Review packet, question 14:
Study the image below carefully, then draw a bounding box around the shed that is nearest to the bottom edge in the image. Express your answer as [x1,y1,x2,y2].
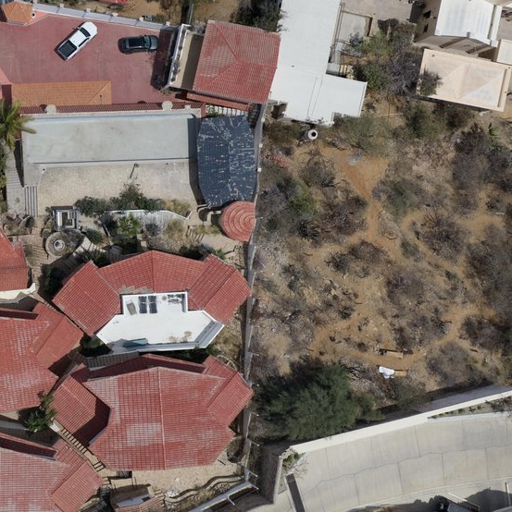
[109,488,165,512]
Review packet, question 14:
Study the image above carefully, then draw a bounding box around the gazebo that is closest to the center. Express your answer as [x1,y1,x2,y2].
[213,202,255,240]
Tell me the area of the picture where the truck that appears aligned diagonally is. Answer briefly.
top left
